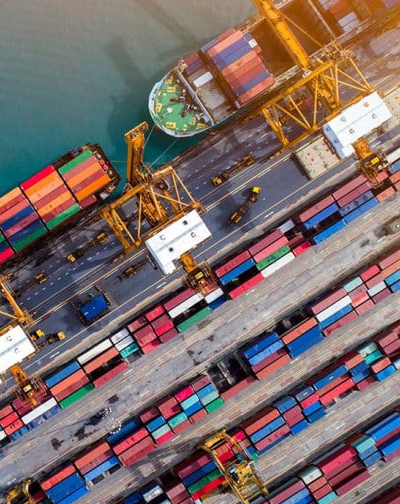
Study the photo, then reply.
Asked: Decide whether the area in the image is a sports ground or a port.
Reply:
port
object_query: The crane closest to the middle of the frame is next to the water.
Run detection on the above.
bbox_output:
[80,114,216,294]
